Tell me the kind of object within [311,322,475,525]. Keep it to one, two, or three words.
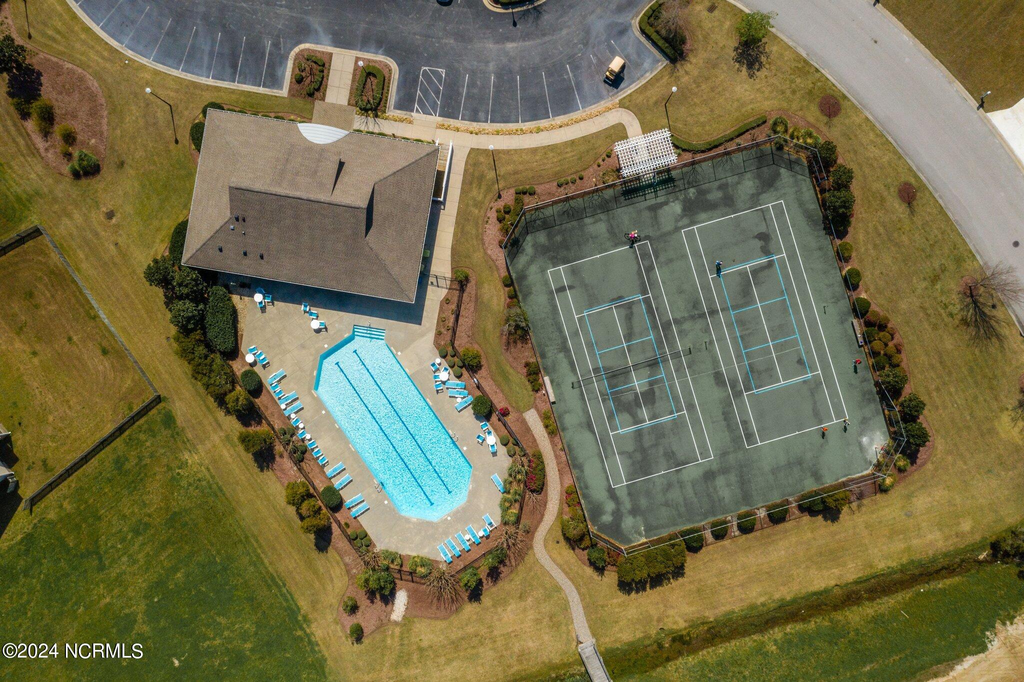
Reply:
swimming pool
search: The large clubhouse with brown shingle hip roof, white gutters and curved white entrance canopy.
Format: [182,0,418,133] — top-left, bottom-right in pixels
[181,108,441,304]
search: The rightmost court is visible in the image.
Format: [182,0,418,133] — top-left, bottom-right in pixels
[682,201,848,448]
